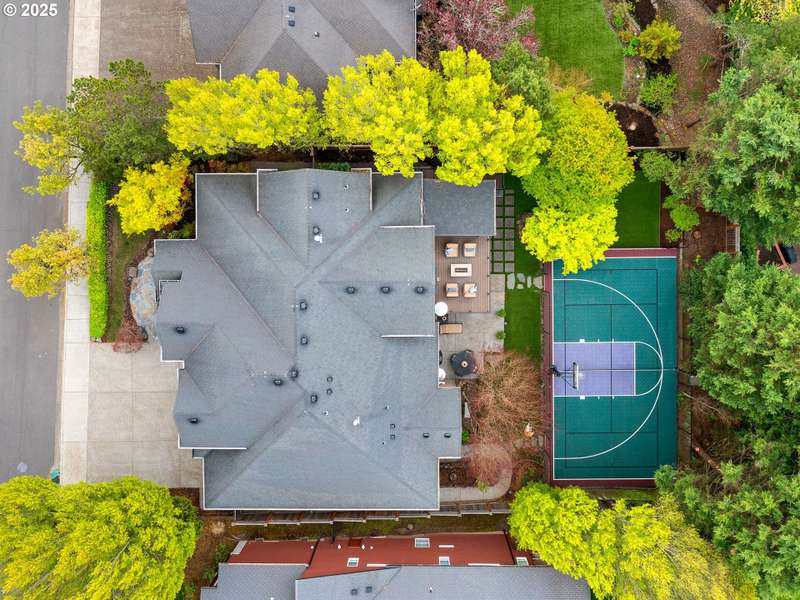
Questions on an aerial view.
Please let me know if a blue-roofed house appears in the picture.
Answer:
No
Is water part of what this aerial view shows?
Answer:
No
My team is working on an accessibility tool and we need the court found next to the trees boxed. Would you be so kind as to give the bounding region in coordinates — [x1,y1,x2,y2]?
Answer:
[544,248,677,488]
